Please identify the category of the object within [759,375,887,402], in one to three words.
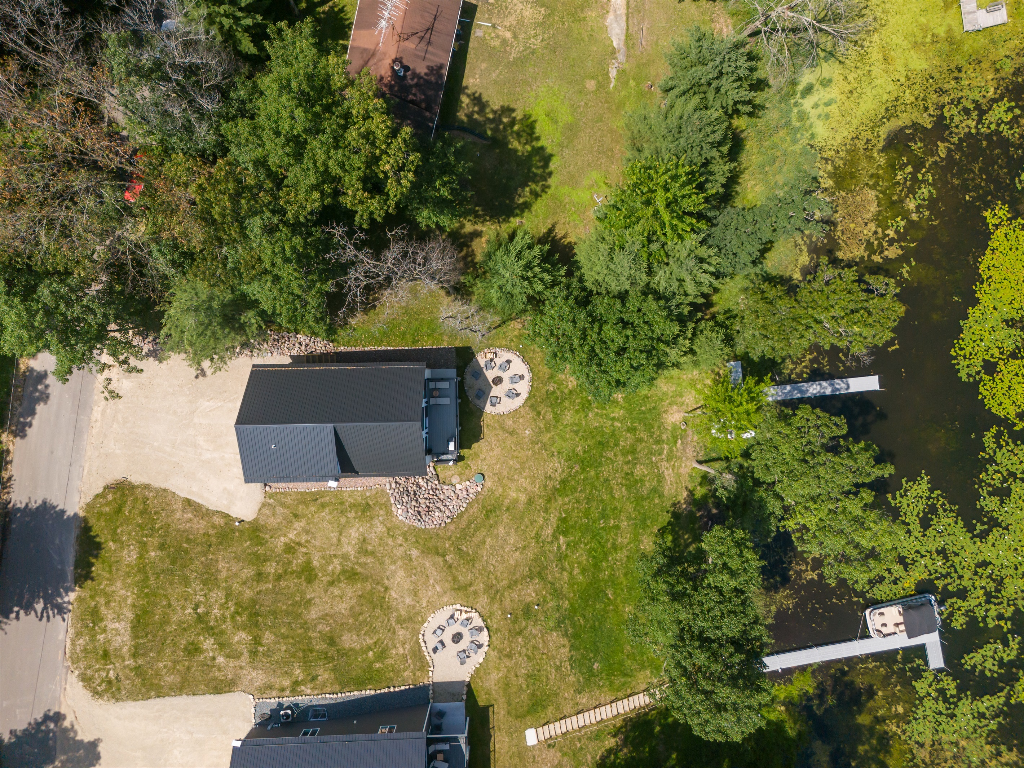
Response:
pier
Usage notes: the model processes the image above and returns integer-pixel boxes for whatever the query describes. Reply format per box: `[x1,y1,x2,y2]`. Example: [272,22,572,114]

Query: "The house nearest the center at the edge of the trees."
[233,361,463,489]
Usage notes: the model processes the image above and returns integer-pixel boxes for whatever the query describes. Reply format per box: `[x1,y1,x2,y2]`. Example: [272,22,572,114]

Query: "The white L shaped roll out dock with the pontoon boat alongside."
[759,630,950,673]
